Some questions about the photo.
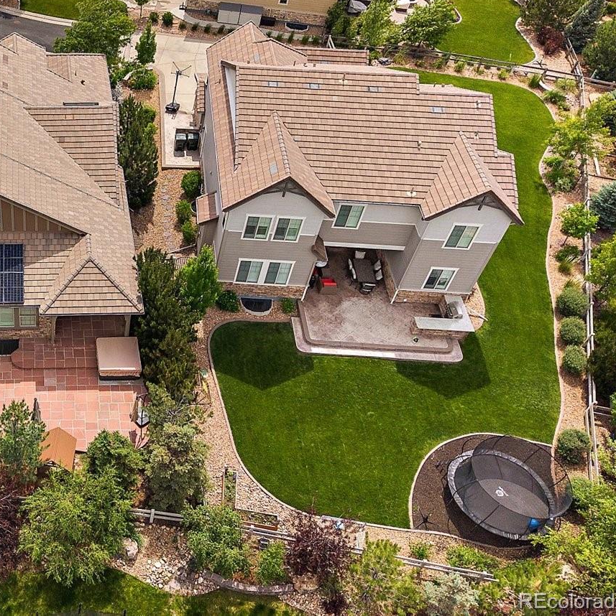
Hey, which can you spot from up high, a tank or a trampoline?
trampoline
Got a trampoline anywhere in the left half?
No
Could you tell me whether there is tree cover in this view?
Yes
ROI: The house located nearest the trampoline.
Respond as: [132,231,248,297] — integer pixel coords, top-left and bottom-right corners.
[193,20,524,321]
